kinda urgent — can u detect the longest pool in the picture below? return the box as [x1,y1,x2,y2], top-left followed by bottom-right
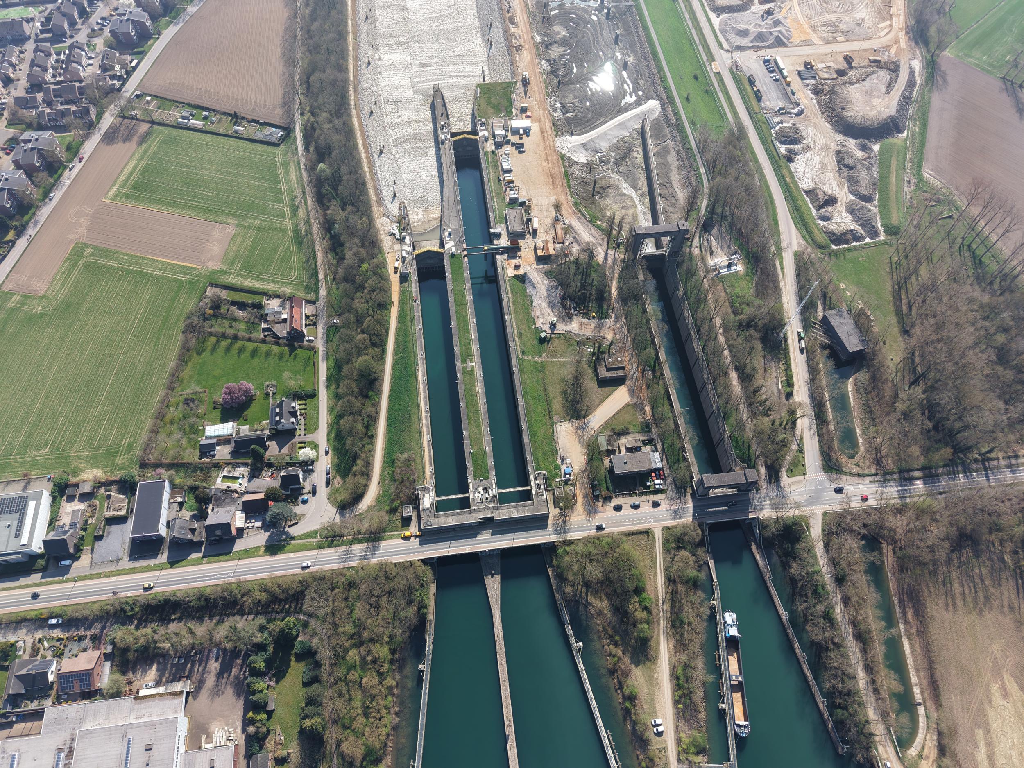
[218,473,241,485]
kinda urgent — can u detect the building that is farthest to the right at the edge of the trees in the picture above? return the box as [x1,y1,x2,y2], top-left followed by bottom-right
[819,307,869,364]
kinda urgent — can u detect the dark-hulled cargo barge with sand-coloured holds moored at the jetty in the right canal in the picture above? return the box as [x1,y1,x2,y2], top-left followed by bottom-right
[725,611,757,738]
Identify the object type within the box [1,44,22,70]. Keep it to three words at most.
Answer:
house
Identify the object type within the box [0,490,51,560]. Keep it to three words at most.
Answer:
building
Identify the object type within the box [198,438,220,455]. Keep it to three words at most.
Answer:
barn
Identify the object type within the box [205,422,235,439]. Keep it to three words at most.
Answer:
greenhouse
